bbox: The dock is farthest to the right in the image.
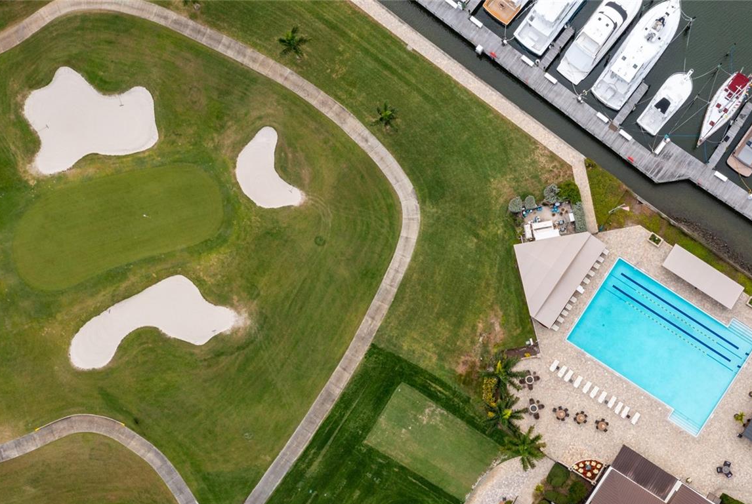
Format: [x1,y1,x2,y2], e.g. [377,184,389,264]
[707,101,752,169]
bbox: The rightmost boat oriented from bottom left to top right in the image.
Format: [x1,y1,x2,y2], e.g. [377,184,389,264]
[697,71,752,146]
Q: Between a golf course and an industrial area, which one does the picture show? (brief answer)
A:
golf course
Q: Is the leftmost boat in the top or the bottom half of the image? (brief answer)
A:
top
